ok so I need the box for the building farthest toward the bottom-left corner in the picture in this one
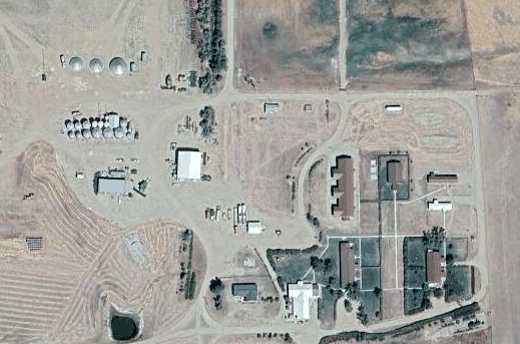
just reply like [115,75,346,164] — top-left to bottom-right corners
[95,172,126,195]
